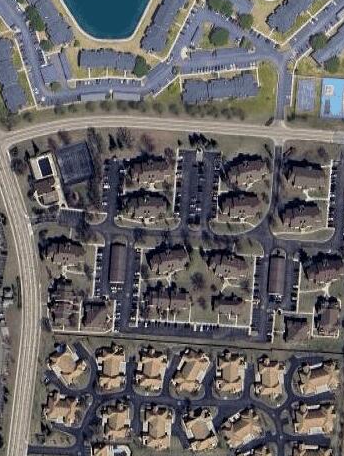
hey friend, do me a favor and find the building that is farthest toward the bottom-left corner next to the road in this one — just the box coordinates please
[43,394,82,423]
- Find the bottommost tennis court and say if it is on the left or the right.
left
